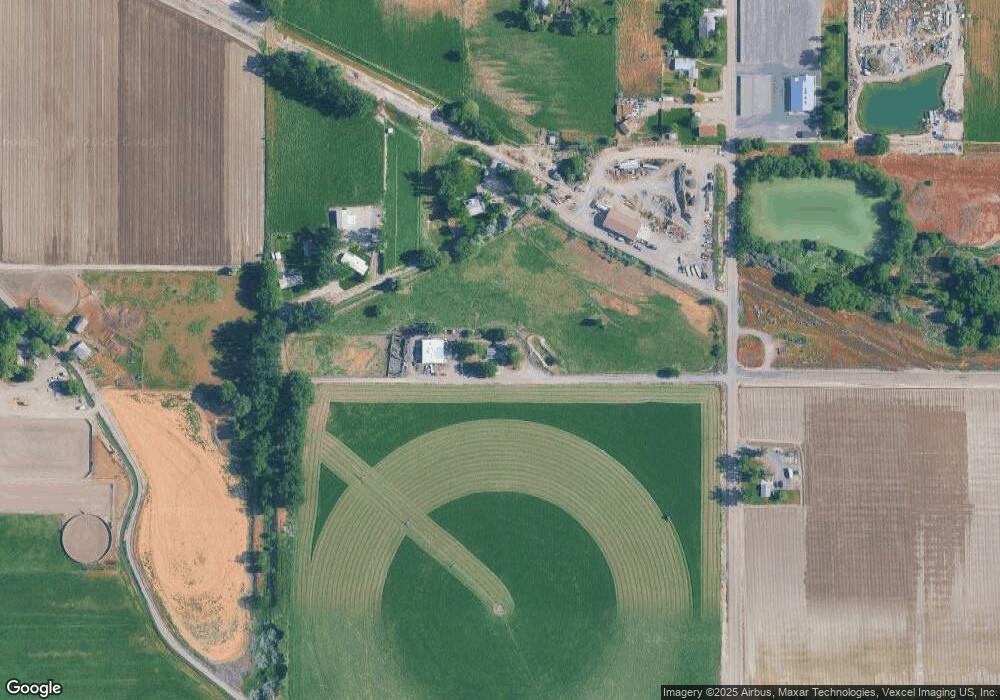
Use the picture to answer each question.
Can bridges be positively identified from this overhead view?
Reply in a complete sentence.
No, this view has no bridge in it.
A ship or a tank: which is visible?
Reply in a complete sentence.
The image shows a tank.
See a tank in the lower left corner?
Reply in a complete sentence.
Yes, in the lower left corner there is a tank.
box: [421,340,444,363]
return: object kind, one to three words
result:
barn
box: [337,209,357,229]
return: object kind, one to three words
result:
barn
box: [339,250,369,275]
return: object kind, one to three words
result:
house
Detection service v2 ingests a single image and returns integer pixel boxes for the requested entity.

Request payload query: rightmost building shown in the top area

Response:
[790,74,817,112]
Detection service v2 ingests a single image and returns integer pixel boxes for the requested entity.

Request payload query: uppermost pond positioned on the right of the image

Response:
[857,64,950,135]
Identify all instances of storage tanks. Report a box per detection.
[61,515,110,564]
